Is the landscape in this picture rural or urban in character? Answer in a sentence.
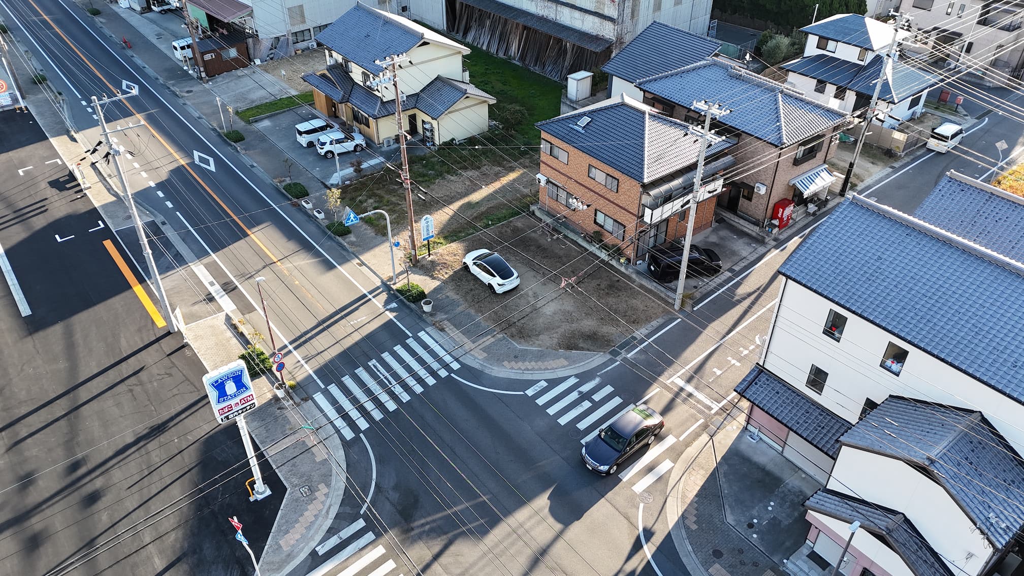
The area shown here is urban.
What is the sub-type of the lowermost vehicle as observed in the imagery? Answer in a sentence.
I'd identify the lowermost vehicle as an automobile.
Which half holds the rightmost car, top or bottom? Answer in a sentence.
The rightmost car is in the top half of the image.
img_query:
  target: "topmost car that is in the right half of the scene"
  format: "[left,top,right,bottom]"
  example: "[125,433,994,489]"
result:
[933,123,970,150]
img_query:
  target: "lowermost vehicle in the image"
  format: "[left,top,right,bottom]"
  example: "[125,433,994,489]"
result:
[586,402,669,470]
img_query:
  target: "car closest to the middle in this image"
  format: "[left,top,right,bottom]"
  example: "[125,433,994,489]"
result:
[459,247,517,288]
